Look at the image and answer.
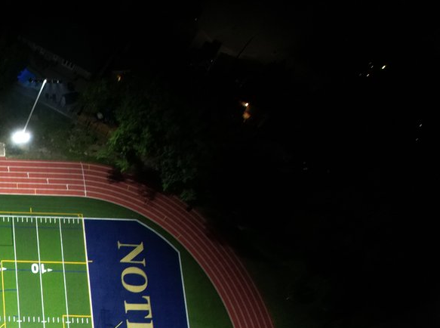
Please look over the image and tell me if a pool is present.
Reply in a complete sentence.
No, there is no pool in the image.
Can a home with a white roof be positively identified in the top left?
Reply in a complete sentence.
No, in the top left there is no home with a white roof.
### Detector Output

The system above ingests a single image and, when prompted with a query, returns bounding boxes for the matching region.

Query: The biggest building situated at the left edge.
[18,7,104,83]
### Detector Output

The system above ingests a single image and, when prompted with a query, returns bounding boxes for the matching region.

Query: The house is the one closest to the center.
[217,68,283,120]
